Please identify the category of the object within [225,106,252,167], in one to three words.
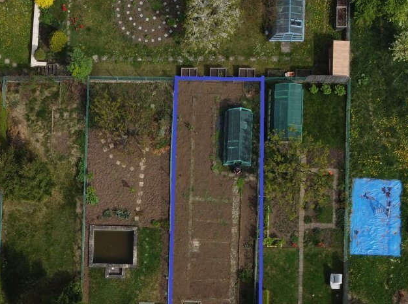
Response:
greenhouse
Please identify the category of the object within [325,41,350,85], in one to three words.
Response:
shed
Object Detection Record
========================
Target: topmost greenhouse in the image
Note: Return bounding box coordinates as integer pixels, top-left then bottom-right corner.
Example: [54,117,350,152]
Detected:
[270,0,304,42]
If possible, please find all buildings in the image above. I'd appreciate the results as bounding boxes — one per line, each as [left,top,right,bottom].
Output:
[225,106,252,167]
[325,41,350,85]
[272,78,303,146]
[270,0,304,42]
